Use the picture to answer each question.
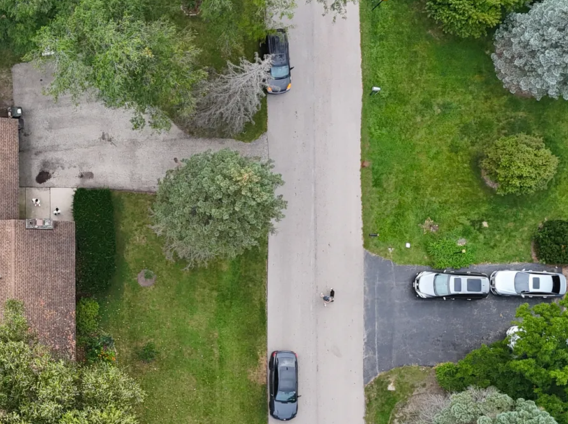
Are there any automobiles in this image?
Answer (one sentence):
Yes, the image includes an automobile.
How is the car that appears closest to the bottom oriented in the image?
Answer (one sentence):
In this picture, the car that appears closest to the bottom is oriented up and down.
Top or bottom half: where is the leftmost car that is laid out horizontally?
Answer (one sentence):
The leftmost car that is laid out horizontally is in the bottom half of the image.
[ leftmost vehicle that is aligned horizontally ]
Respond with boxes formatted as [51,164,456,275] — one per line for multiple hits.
[409,268,485,302]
